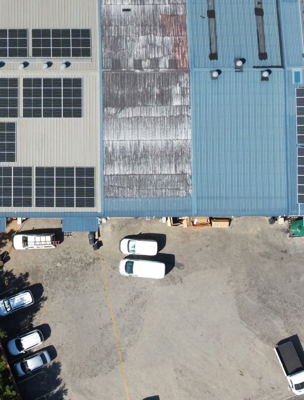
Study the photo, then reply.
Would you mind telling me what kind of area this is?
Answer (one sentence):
This looks like an industrial area.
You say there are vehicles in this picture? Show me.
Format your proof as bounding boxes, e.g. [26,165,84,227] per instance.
[12,233,56,252]
[273,341,304,396]
[0,290,35,316]
[13,349,53,376]
[7,330,46,356]
[119,238,158,257]
[117,259,166,279]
